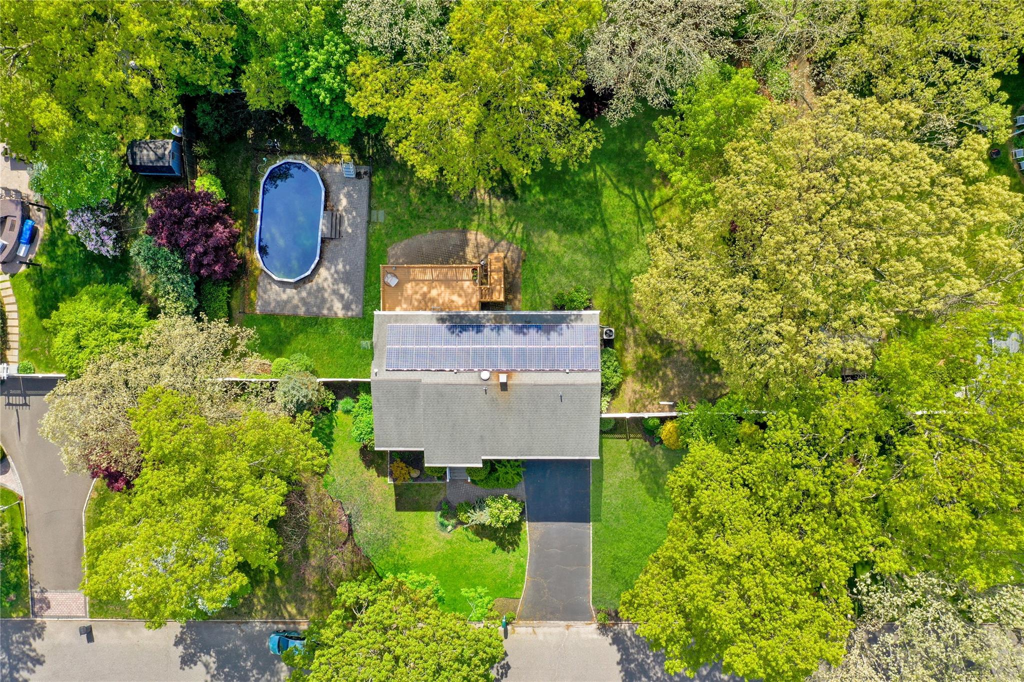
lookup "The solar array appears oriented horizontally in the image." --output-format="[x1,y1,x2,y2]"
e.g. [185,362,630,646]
[385,325,599,373]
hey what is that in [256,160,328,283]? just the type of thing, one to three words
swimming pool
